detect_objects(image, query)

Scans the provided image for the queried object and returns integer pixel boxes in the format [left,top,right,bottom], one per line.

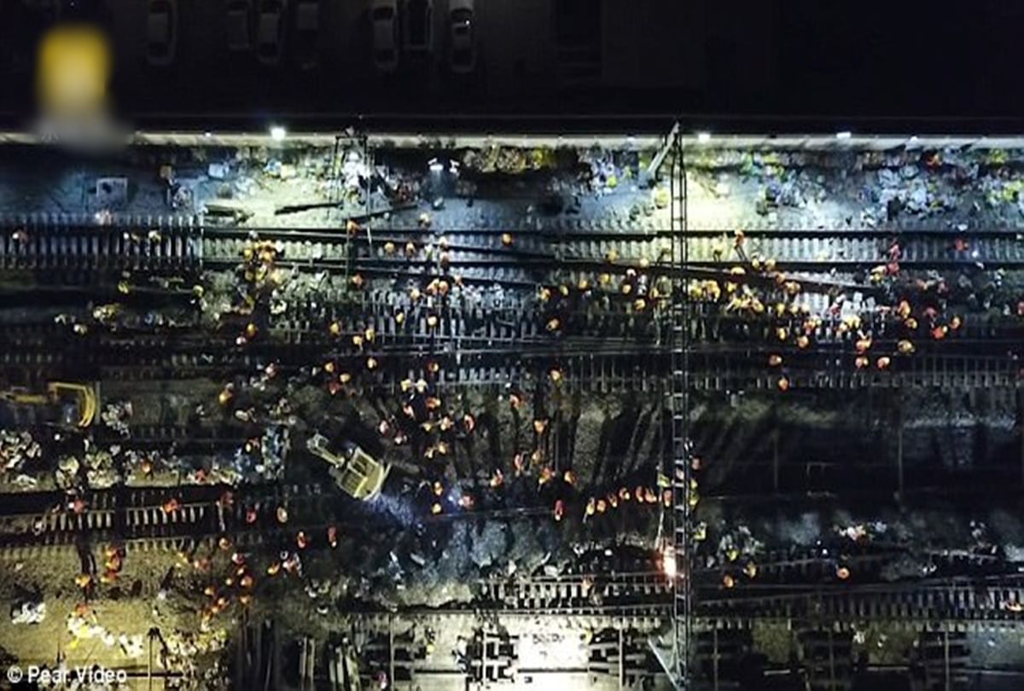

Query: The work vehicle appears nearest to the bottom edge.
[301,435,403,514]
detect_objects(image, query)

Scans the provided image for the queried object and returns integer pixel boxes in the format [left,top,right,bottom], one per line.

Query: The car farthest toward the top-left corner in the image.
[133,0,178,65]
